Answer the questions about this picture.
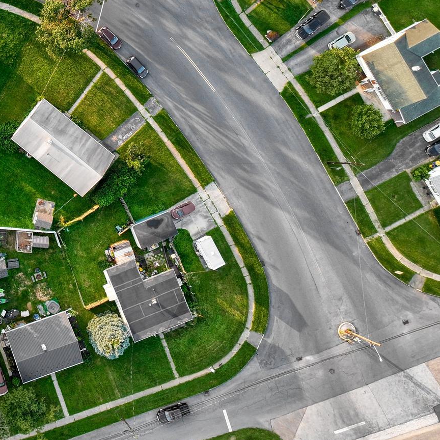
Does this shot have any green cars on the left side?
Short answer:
No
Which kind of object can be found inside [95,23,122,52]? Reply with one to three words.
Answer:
car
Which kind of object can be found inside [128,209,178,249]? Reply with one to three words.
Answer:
building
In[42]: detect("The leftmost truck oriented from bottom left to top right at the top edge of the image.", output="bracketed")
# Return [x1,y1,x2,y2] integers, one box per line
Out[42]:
[293,8,331,41]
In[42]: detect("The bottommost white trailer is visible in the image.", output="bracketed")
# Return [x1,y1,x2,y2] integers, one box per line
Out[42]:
[193,232,223,269]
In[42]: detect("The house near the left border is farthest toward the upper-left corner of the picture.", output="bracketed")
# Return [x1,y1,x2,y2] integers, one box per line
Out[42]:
[11,99,115,197]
